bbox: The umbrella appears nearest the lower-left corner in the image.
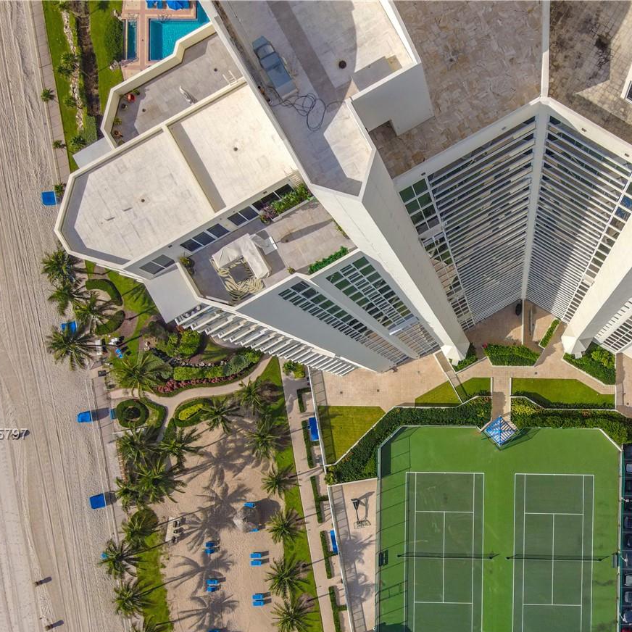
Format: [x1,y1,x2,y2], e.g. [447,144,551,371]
[234,504,258,529]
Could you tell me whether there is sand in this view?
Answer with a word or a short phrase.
Yes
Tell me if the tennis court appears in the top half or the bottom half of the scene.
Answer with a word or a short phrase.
bottom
